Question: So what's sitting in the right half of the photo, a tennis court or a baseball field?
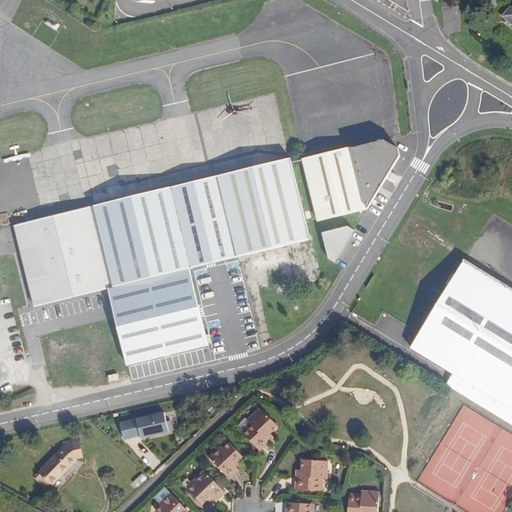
tennis court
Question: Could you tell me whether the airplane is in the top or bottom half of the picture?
top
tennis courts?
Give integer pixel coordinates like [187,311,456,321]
[418,406,502,504]
[458,429,512,512]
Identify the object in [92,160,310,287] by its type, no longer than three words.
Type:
hangar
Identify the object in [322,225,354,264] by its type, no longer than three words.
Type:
building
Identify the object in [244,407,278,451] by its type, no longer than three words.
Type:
house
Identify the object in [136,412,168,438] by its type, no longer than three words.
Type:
house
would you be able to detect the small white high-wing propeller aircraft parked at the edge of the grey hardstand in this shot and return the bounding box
[4,144,31,165]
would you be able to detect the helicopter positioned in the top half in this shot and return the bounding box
[222,94,252,122]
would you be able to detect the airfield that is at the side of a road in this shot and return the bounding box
[0,0,398,258]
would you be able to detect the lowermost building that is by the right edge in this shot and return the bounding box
[410,259,512,421]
